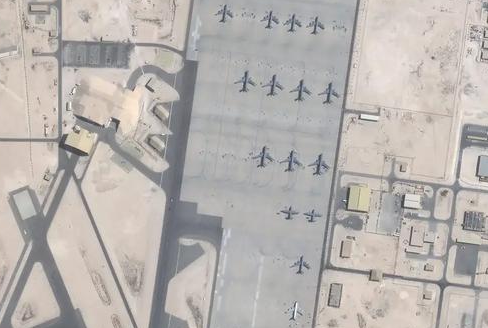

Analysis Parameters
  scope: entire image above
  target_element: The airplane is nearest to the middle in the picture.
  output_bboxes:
[253,146,274,167]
